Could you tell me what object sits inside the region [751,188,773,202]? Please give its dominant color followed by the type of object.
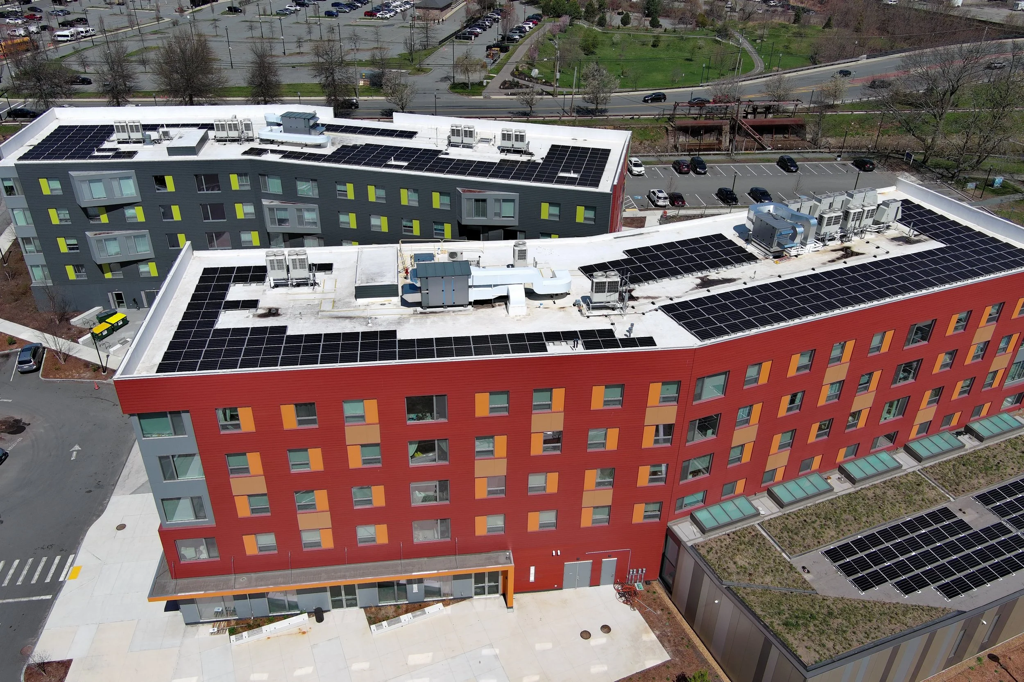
black car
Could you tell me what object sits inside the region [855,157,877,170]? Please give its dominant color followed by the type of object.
black vehicle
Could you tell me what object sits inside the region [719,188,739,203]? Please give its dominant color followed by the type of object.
black car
